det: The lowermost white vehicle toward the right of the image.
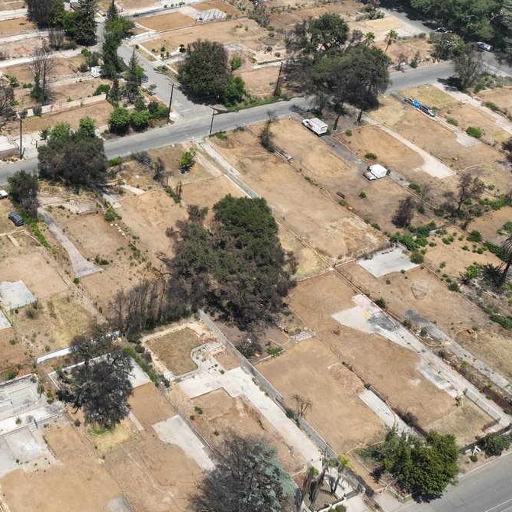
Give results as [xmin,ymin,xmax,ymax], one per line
[366,159,391,178]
